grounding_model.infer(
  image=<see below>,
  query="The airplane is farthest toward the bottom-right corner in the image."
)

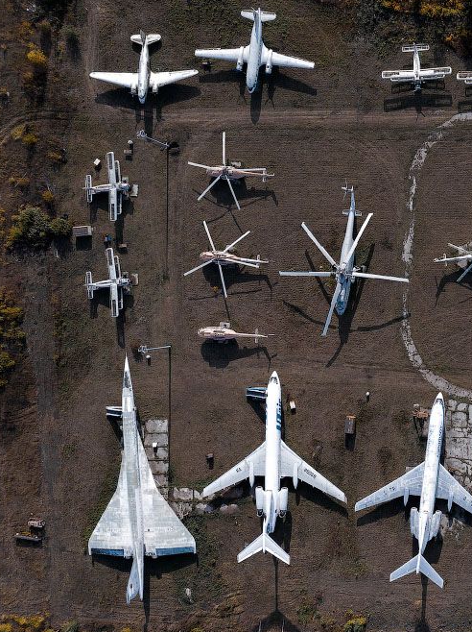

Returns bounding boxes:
[357,393,472,587]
